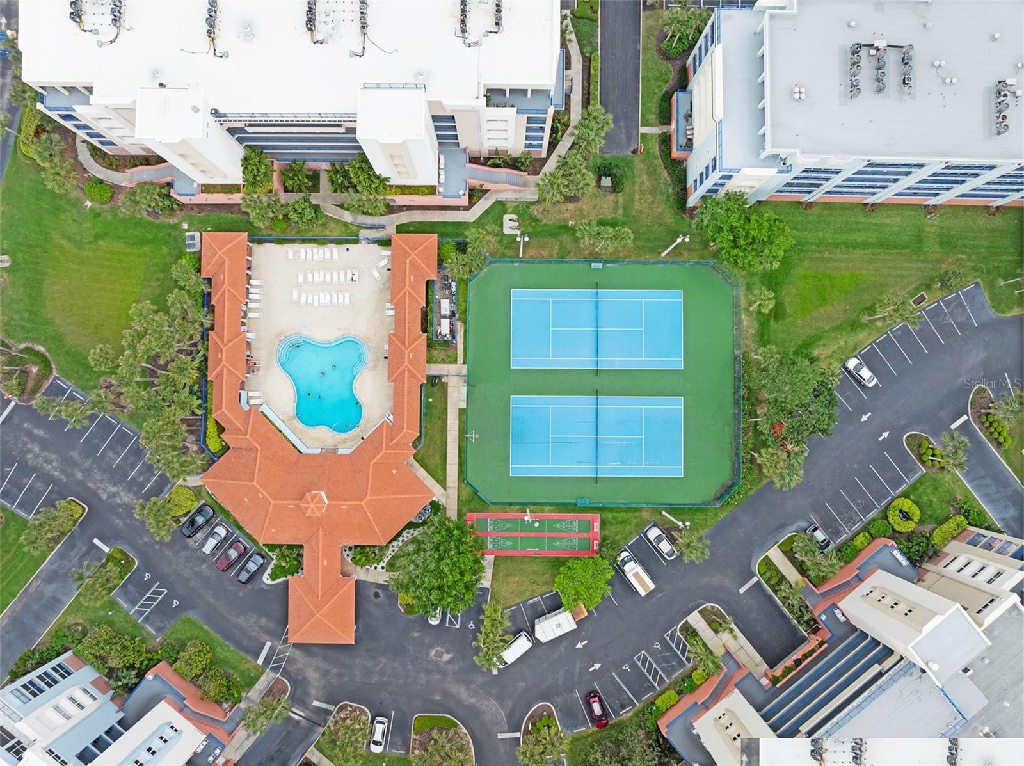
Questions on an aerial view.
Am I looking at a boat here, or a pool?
pool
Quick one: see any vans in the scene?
Yes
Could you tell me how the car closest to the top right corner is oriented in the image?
at an angle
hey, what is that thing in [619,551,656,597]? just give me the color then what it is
white vehicle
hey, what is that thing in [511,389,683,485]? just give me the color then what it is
blue tennis court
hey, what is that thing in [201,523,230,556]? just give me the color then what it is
white car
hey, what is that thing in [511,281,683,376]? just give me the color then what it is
blue tennis court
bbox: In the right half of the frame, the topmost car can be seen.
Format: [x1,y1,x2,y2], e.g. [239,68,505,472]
[843,355,876,389]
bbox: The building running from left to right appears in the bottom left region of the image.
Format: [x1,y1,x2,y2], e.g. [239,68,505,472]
[0,652,253,766]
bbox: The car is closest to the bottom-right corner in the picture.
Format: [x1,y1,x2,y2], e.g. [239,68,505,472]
[803,520,835,552]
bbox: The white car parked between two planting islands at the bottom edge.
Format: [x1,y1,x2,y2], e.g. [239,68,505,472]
[370,716,389,751]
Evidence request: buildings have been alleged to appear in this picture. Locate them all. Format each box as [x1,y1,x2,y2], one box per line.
[660,526,1024,766]
[670,0,1024,210]
[200,232,438,644]
[0,652,253,766]
[17,0,565,205]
